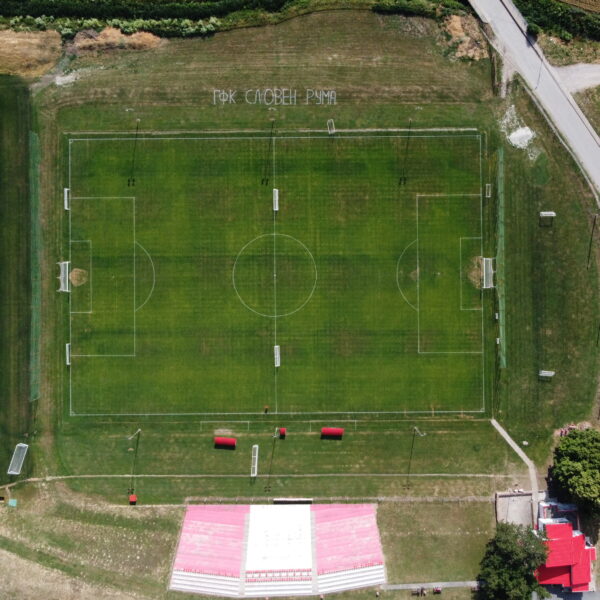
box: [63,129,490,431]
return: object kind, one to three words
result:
soccer field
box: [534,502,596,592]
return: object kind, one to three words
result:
building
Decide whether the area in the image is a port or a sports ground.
sports ground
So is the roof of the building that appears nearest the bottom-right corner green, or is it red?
red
